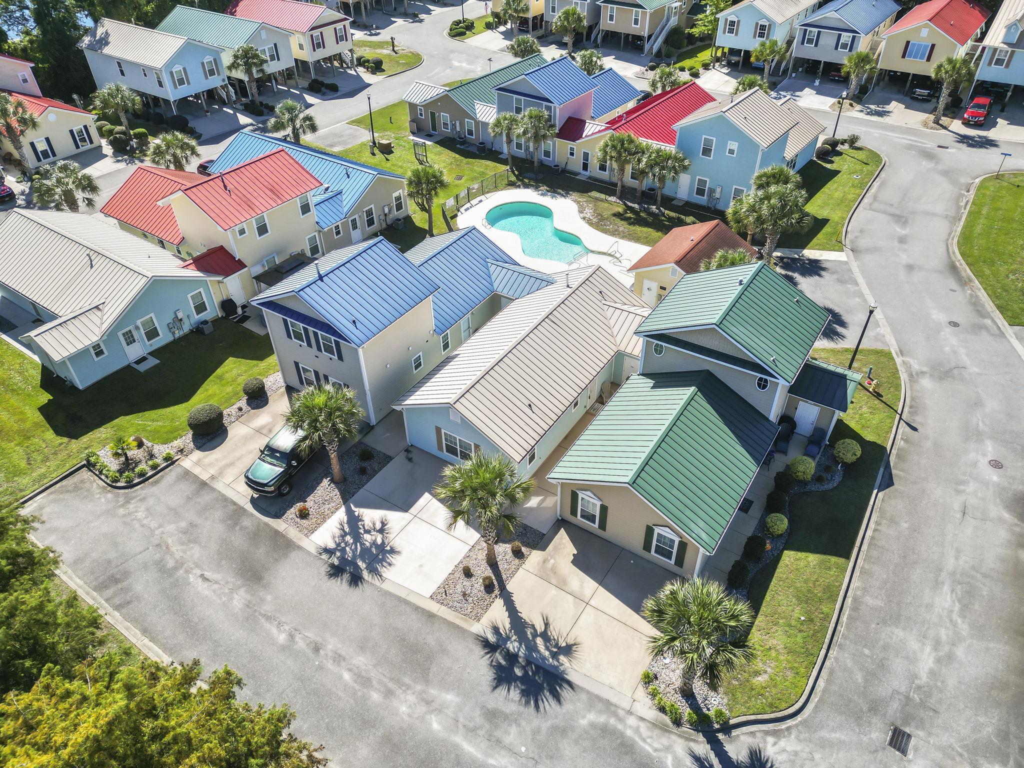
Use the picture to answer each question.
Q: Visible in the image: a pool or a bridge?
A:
pool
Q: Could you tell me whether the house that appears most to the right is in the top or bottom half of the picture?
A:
top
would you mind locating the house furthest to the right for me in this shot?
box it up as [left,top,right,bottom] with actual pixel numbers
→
[967,7,1024,111]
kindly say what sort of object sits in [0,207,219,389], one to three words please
house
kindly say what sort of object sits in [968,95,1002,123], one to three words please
truck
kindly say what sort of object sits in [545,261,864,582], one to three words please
house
